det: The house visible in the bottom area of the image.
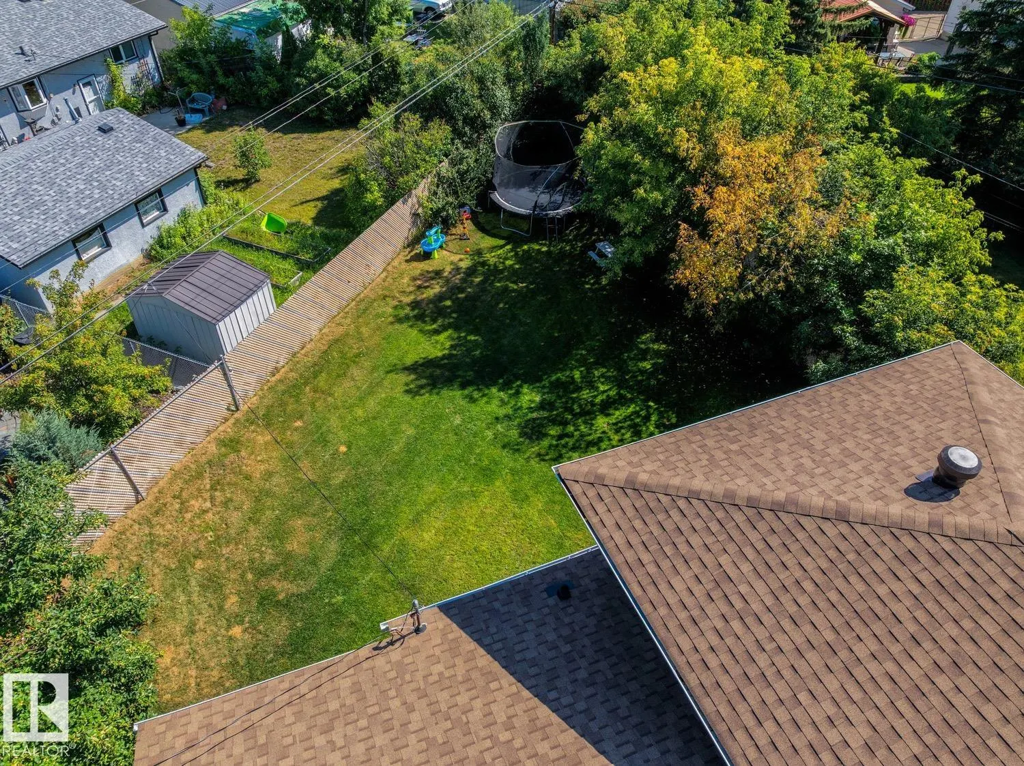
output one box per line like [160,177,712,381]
[126,338,1024,766]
